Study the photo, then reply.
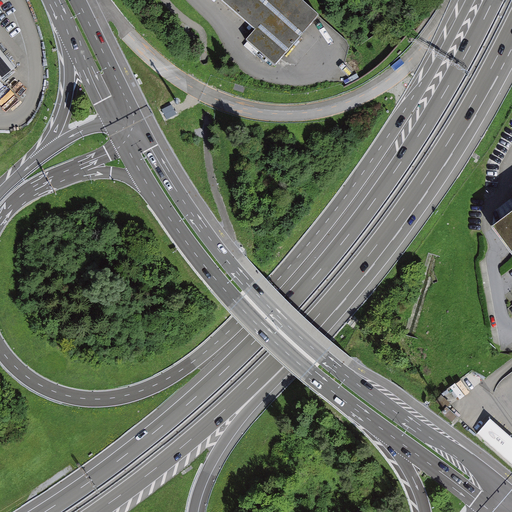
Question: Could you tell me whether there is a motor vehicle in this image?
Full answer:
Yes, looking at the shot, I can spot a motor vehicle.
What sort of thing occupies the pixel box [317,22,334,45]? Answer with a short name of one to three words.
vehicle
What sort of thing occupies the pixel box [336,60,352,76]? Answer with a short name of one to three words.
vehicle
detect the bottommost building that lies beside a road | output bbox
[476,418,512,463]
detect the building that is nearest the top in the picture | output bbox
[221,0,318,64]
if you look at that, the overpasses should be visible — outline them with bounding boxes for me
[230,273,334,382]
